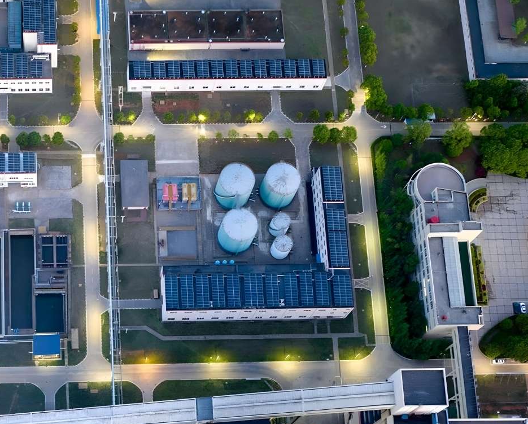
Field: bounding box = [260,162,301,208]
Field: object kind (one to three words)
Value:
storage tank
